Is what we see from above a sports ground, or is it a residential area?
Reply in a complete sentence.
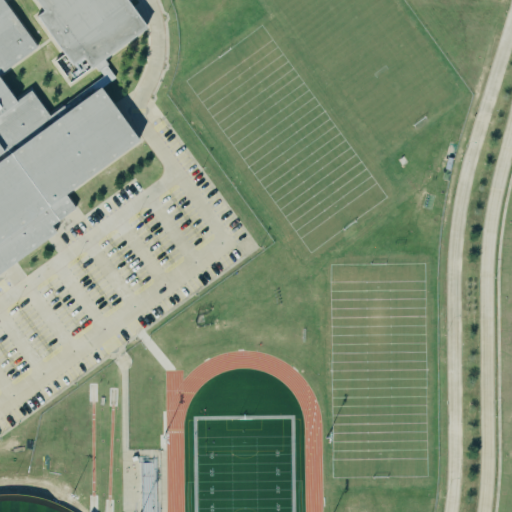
The picture captures a sports ground.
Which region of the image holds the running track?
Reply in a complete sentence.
Look in the bottom portion of the view to spot the running track.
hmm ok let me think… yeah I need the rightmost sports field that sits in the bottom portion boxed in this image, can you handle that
[331,264,428,478]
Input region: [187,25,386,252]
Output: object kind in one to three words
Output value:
sports field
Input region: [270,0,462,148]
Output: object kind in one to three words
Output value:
soccer field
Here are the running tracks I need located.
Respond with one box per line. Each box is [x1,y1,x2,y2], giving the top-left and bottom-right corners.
[166,350,324,512]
